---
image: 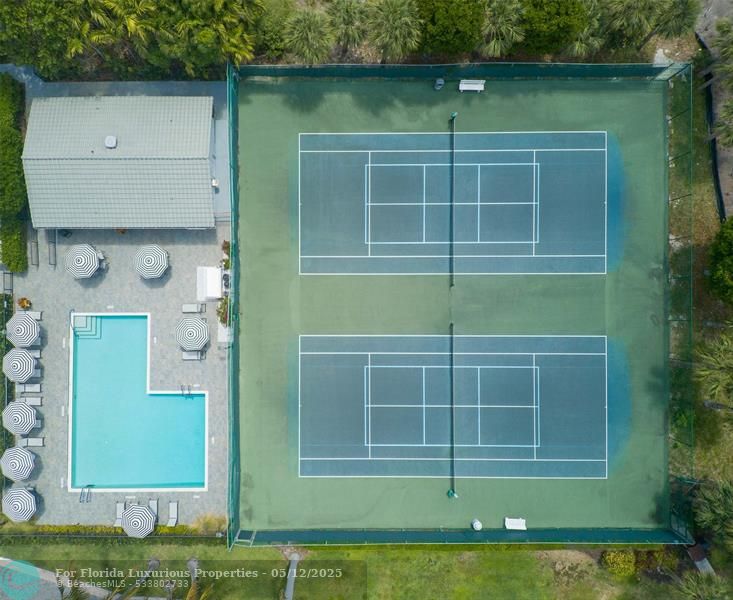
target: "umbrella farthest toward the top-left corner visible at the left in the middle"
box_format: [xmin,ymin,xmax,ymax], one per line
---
[65,244,100,279]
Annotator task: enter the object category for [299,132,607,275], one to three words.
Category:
tennis court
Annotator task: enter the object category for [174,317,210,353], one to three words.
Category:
umbrella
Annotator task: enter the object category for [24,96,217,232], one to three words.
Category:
building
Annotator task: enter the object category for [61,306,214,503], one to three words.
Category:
swimming pool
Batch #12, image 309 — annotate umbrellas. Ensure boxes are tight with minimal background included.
[174,317,210,353]
[65,244,100,279]
[132,243,168,279]
[6,313,42,348]
[1,485,38,521]
[2,347,39,382]
[0,445,37,481]
[119,503,154,539]
[1,400,39,435]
